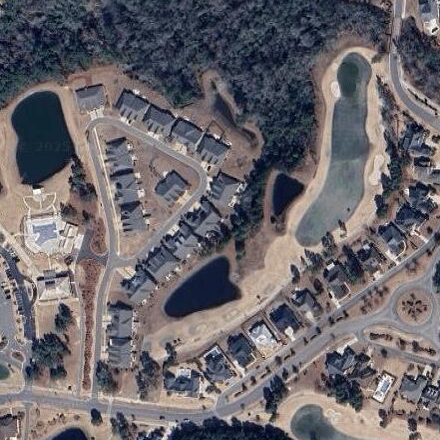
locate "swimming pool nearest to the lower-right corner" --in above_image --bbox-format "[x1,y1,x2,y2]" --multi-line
[376,374,393,400]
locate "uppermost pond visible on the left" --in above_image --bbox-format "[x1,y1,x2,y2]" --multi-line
[9,88,78,188]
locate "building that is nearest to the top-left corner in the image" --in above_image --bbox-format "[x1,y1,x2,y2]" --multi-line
[76,85,106,112]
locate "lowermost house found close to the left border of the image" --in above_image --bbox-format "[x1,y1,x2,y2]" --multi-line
[0,413,19,440]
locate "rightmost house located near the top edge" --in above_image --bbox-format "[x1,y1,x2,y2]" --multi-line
[416,0,440,17]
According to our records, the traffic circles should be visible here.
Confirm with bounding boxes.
[389,280,440,331]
